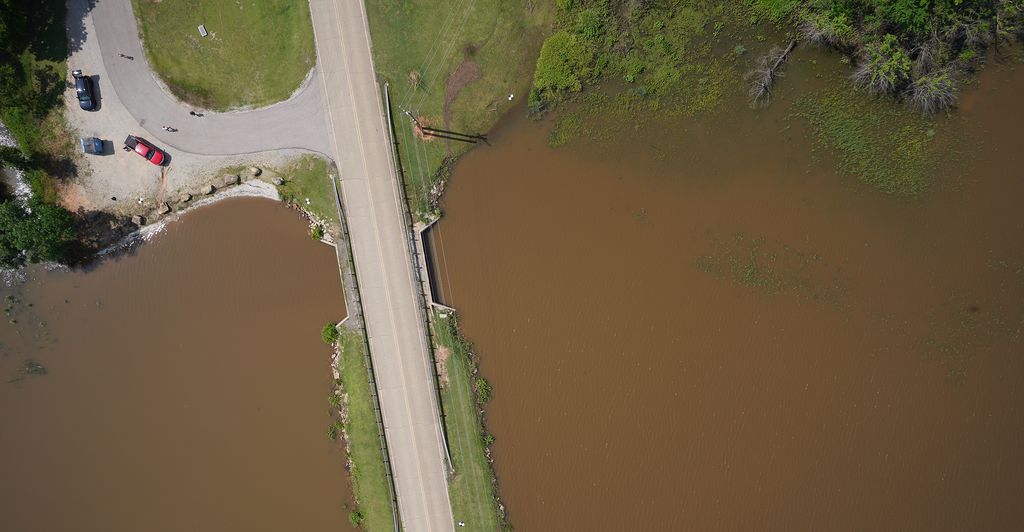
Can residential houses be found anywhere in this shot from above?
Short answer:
No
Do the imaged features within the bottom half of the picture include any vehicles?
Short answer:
No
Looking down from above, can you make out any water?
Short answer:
Yes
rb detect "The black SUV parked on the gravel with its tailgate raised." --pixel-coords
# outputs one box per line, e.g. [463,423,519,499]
[72,66,95,111]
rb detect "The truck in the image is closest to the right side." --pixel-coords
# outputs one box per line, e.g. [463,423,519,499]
[124,135,167,166]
